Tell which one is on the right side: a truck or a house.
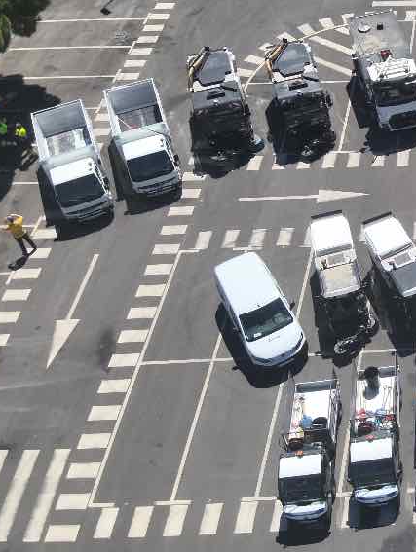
truck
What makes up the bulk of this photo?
paved ground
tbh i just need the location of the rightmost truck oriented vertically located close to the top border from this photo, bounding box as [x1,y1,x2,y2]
[351,8,416,131]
